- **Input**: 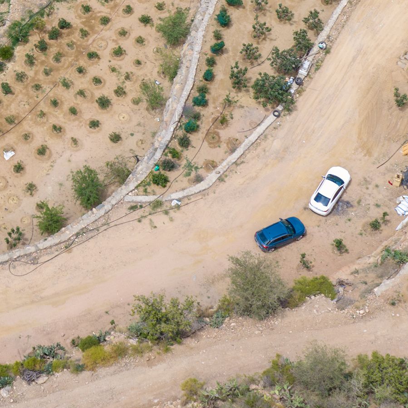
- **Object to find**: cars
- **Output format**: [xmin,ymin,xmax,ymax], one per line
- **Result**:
[255,216,307,251]
[312,166,351,216]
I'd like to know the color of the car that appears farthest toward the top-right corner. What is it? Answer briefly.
white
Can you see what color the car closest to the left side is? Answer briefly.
blue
